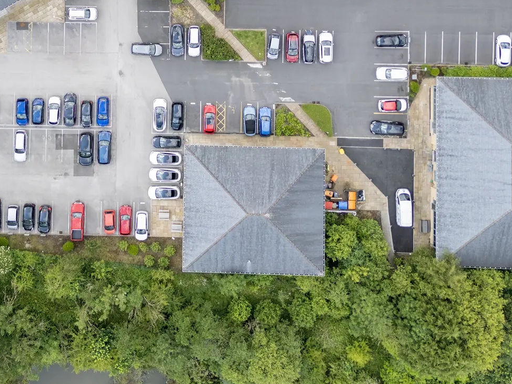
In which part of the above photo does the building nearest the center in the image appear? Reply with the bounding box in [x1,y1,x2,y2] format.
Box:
[181,143,327,277]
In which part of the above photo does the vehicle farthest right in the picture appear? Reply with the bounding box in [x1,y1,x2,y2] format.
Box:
[495,34,512,66]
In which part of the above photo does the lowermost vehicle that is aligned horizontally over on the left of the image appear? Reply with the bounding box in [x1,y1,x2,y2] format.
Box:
[148,185,180,201]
